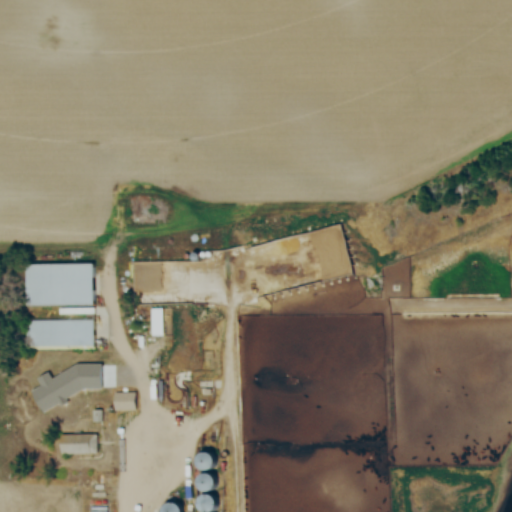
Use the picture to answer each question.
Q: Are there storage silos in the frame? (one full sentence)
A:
Yes, there is a storage silo in the image.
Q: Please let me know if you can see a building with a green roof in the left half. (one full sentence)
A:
No, looking in the left half, there is no building with a green roof.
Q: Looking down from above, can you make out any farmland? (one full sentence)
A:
Yes, the picture does contain farmland.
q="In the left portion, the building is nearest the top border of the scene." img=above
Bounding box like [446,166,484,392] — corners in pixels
[25,264,94,306]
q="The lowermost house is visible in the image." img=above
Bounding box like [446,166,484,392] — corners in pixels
[59,434,98,456]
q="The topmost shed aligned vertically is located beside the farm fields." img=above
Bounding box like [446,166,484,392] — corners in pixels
[150,308,164,337]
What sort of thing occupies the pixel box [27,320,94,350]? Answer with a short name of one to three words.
barn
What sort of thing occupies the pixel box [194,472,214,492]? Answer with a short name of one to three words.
silo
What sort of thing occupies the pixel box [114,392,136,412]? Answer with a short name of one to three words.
building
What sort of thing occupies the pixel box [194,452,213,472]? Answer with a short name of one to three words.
silo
